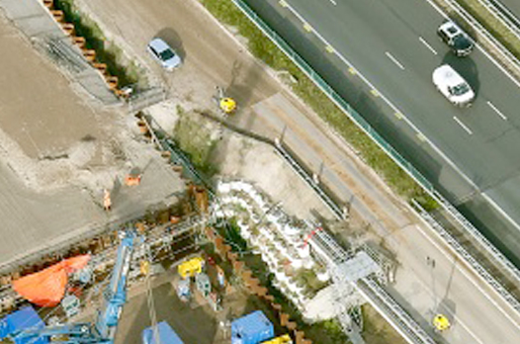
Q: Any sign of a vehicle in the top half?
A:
Yes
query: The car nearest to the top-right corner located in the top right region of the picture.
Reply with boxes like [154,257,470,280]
[437,20,476,58]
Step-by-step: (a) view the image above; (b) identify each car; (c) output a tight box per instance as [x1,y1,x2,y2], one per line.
[437,20,476,58]
[432,66,475,107]
[145,37,181,72]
